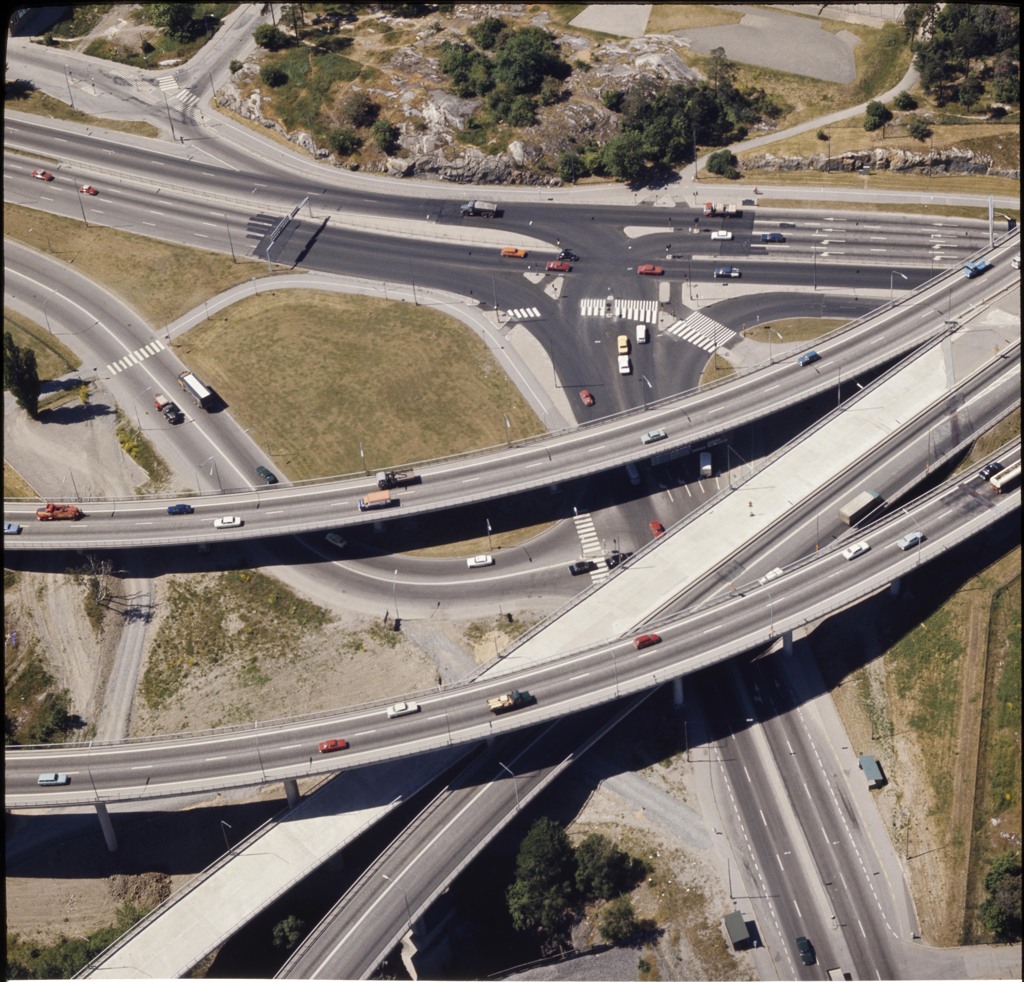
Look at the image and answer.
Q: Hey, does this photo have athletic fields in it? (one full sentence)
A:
Yes, the frame does contain an athletic field.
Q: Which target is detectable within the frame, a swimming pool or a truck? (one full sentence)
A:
There is a truck in the scene.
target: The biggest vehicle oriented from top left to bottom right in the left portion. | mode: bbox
[176,367,214,403]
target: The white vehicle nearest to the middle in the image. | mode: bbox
[467,555,493,568]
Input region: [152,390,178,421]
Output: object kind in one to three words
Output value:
truck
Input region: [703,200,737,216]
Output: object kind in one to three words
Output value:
vehicle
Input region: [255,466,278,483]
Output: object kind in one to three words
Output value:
car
